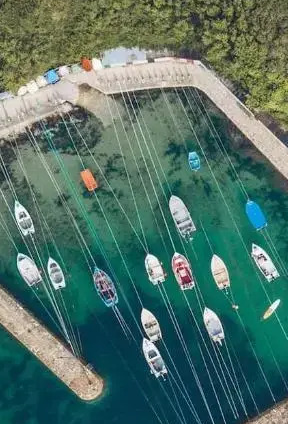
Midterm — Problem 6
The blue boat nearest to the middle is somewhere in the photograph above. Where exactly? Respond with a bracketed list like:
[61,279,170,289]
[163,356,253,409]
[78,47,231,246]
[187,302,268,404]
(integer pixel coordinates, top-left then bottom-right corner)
[188,151,200,172]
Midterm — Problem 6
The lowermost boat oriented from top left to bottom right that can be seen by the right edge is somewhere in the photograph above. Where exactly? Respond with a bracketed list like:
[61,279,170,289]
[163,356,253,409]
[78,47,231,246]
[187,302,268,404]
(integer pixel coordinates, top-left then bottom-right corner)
[252,243,280,285]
